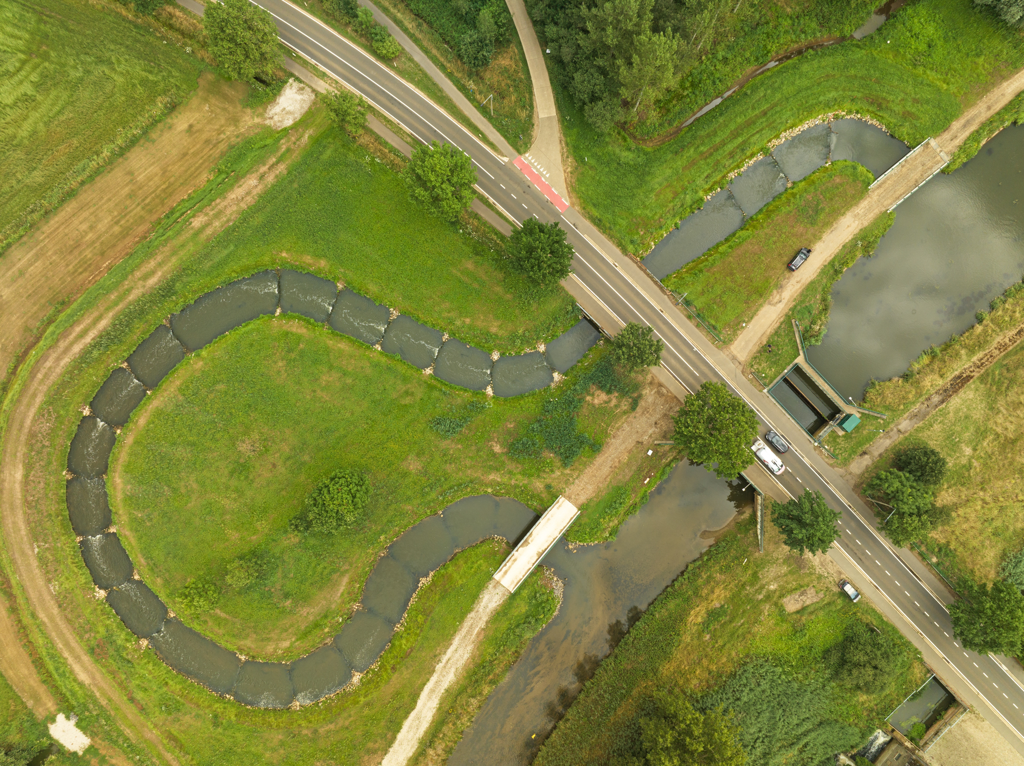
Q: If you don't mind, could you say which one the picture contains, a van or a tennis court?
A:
van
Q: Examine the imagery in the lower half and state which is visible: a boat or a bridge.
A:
bridge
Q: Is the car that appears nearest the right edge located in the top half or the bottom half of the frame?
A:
bottom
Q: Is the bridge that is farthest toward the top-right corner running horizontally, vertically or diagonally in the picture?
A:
diagonally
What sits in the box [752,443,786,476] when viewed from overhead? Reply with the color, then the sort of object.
white van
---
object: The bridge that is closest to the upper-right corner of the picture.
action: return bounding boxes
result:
[868,135,954,212]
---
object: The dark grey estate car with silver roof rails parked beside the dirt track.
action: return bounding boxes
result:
[786,247,810,273]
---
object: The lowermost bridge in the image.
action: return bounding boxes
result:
[492,495,580,594]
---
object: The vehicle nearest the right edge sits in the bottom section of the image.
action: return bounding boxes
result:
[836,579,860,603]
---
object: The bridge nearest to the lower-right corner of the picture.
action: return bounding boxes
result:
[713,390,814,551]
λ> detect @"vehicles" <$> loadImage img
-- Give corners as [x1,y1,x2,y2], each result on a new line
[786,247,810,273]
[836,579,860,603]
[752,443,786,476]
[764,431,789,455]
